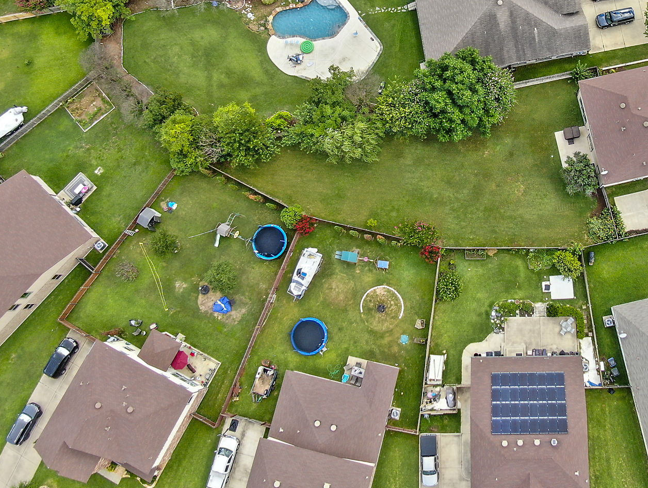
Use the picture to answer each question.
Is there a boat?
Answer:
Yes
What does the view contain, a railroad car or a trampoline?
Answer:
trampoline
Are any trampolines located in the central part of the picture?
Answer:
Yes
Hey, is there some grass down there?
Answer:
Yes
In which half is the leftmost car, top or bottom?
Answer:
bottom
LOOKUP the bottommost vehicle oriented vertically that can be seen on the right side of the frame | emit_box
[419,434,440,487]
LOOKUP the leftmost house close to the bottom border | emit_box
[34,340,210,484]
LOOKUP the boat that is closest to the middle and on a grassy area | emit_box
[290,247,322,299]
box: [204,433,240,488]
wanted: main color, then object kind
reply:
white truck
